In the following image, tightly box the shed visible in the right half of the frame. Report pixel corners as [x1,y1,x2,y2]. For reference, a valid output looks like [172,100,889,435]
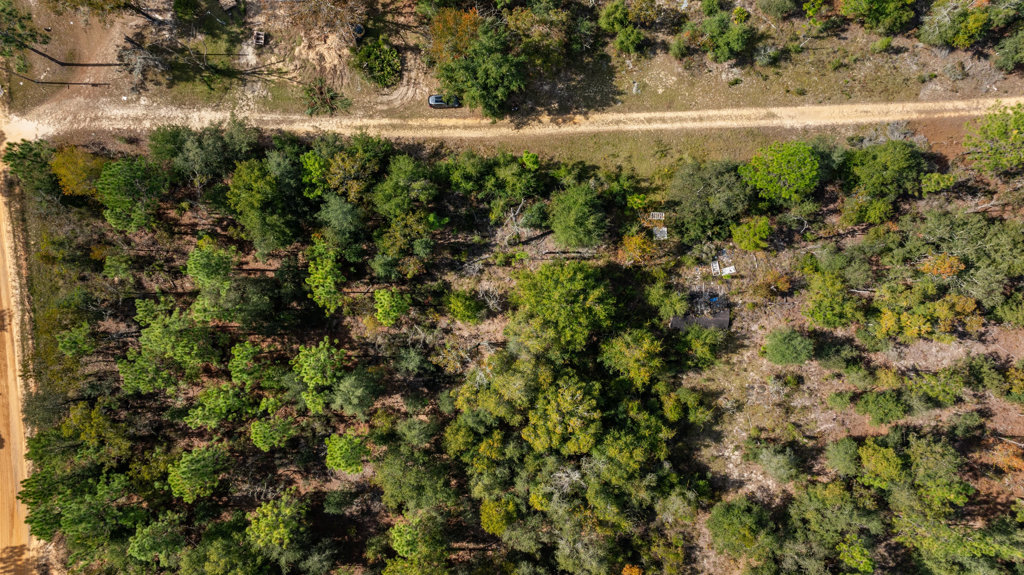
[670,282,732,332]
